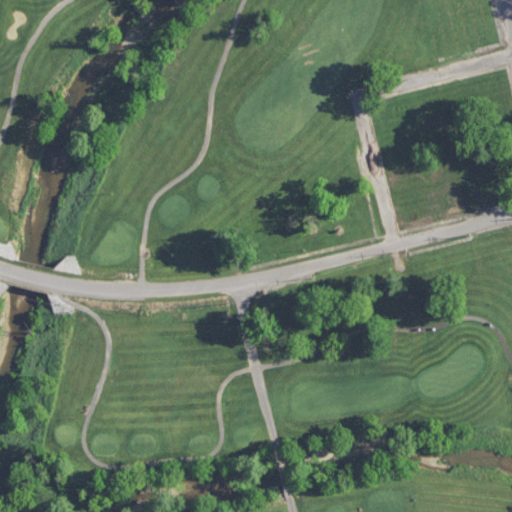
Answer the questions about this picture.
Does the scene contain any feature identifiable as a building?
No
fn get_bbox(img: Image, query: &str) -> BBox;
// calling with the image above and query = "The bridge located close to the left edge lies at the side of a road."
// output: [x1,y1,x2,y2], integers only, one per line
[0,241,84,315]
